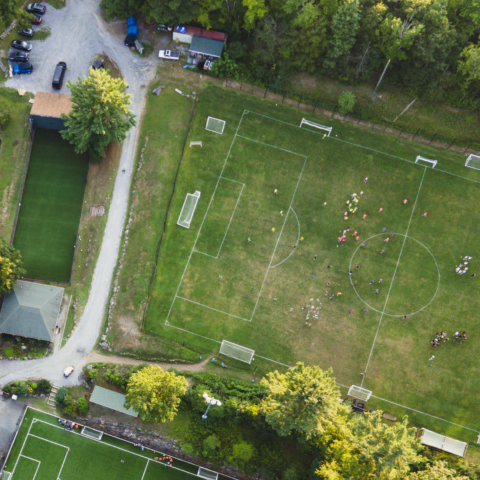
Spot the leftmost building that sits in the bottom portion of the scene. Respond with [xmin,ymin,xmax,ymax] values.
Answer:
[0,280,64,343]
